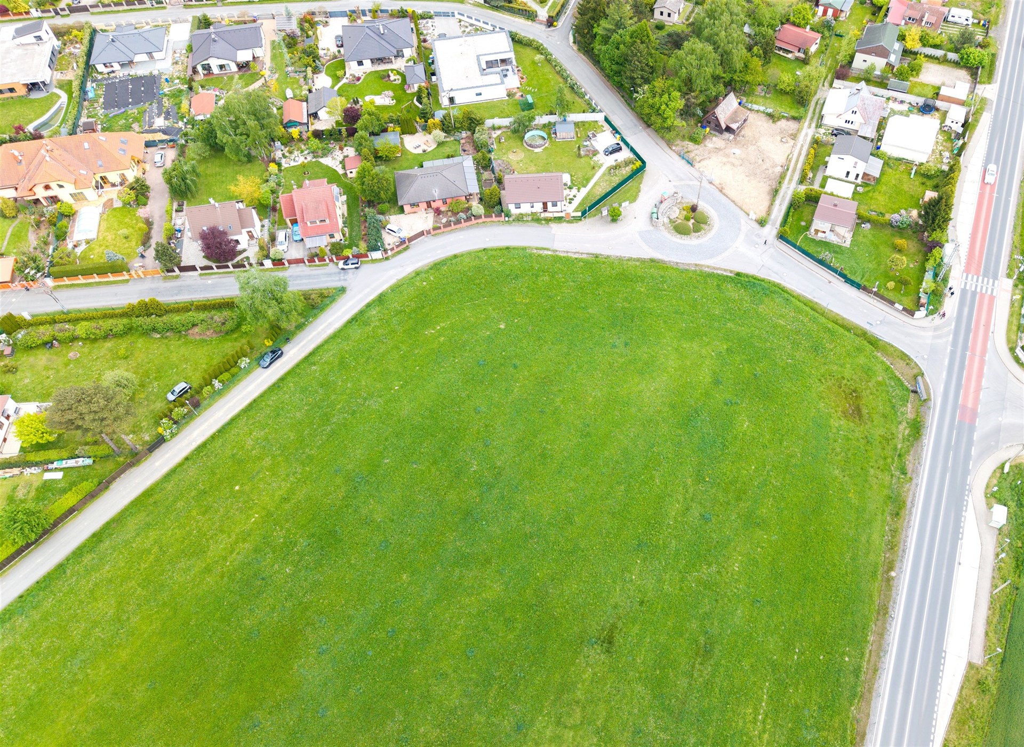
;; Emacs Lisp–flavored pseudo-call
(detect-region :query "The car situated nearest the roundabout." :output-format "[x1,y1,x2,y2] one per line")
[602,140,625,156]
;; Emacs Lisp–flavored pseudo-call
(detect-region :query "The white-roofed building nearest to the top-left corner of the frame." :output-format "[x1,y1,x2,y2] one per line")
[0,13,73,97]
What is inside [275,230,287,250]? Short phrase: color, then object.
white vehicle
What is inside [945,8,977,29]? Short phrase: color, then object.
white vehicle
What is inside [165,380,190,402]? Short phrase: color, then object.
white car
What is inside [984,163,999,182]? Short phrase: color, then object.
white car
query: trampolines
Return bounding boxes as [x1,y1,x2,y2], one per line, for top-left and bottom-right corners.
[918,97,940,117]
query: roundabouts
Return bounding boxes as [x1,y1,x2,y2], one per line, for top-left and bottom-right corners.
[635,181,747,267]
